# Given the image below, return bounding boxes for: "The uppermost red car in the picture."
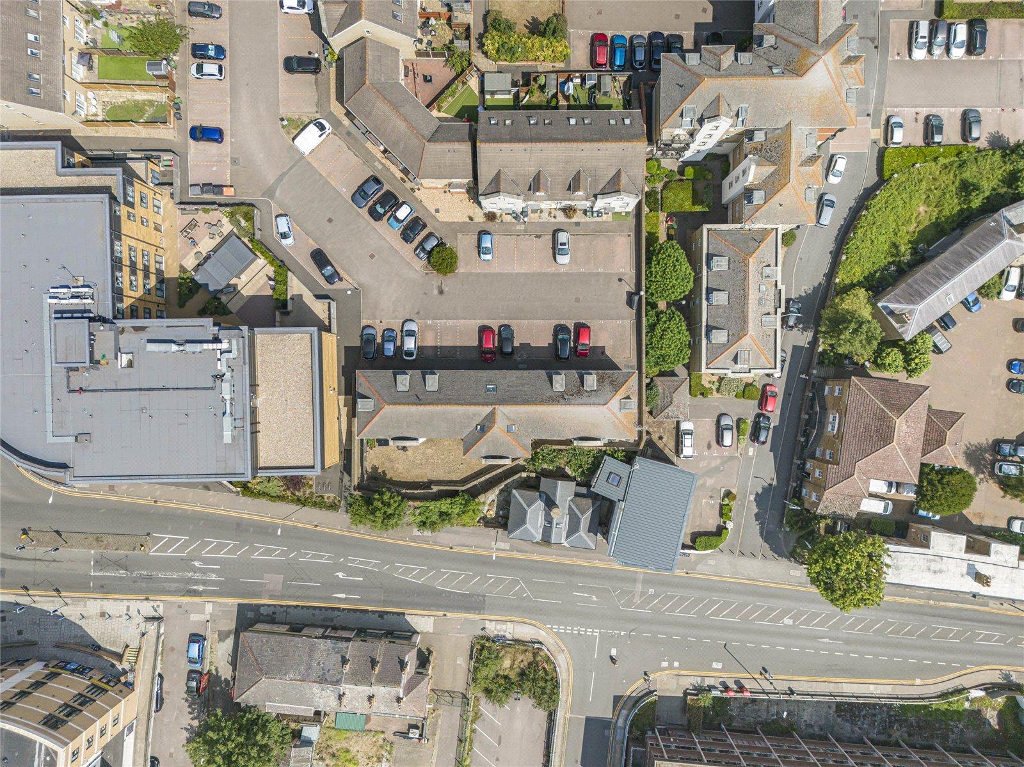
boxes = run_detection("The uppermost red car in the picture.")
[592,37,608,69]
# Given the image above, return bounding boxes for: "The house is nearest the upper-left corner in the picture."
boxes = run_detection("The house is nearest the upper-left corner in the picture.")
[0,0,84,125]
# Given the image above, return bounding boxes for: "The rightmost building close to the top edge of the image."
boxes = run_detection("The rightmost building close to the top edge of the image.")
[647,0,865,239]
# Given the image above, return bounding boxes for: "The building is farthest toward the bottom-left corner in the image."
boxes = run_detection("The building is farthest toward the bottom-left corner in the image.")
[0,659,137,767]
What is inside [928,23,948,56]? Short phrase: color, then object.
gray car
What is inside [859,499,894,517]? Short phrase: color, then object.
white vehicle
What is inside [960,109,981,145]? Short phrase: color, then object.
gray car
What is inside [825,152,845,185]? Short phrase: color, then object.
white car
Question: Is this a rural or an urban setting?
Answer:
urban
